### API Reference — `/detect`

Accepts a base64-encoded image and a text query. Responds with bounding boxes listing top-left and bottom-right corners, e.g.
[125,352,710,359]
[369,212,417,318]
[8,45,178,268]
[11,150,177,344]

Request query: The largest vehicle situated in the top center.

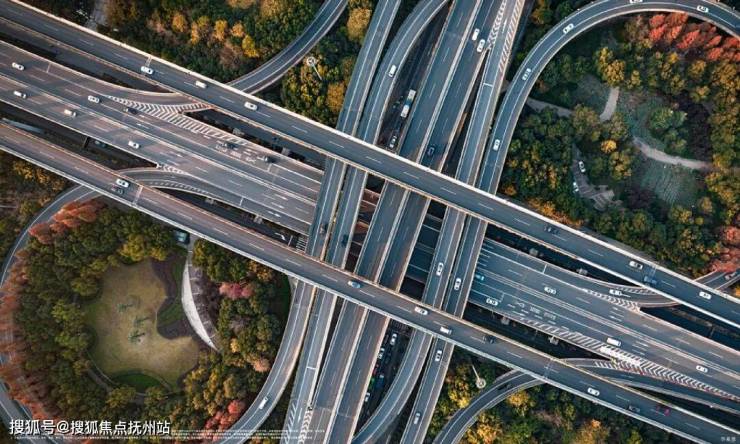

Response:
[401,88,416,117]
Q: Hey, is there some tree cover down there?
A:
Yes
